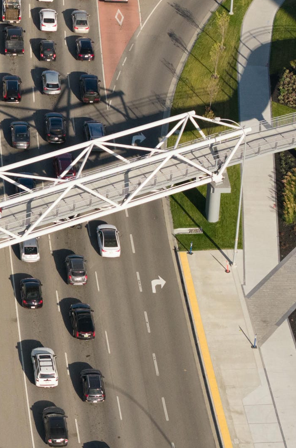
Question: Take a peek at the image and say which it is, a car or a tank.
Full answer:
This aerial view contains a car.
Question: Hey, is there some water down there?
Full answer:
No, no water is visible.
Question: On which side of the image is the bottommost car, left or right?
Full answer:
The bottommost car is on the left side of the image.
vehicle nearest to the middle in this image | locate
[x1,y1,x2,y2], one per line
[96,227,121,259]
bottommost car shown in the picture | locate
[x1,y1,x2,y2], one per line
[42,409,70,448]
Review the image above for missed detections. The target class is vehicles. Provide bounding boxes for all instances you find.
[3,26,25,57]
[2,0,22,23]
[31,351,58,391]
[64,255,90,290]
[1,77,23,104]
[41,73,61,98]
[20,280,44,313]
[38,41,57,66]
[53,154,76,184]
[39,10,58,34]
[42,409,70,448]
[79,77,101,104]
[44,116,67,144]
[71,11,91,35]
[8,124,30,152]
[19,234,42,265]
[82,123,106,154]
[96,227,121,259]
[59,215,80,232]
[75,40,95,64]
[79,369,106,408]
[70,306,95,343]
